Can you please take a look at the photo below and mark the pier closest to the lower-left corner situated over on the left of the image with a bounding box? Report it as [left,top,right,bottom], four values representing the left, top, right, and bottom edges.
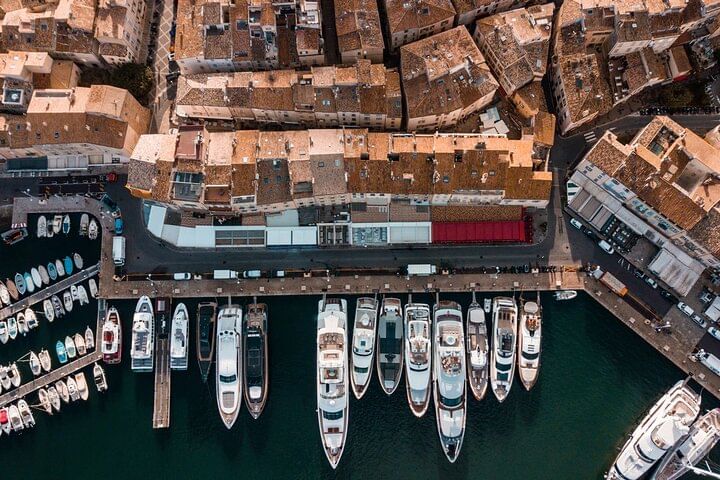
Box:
[0,353,103,407]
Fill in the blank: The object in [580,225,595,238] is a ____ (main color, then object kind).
black vehicle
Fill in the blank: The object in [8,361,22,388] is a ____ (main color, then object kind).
white boat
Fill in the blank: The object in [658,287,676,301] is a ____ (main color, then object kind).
black car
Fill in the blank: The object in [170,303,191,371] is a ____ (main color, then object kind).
white ship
